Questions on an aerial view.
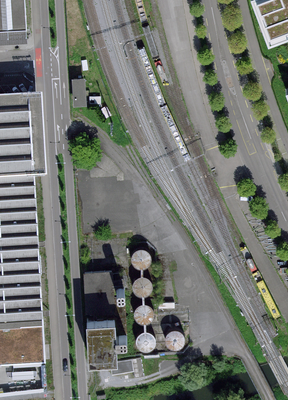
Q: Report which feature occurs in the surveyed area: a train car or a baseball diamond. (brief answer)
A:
train car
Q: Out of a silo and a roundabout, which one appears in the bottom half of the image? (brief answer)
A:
silo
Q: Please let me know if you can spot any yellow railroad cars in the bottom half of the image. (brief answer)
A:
Yes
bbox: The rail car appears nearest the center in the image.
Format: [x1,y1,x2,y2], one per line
[162,105,190,157]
